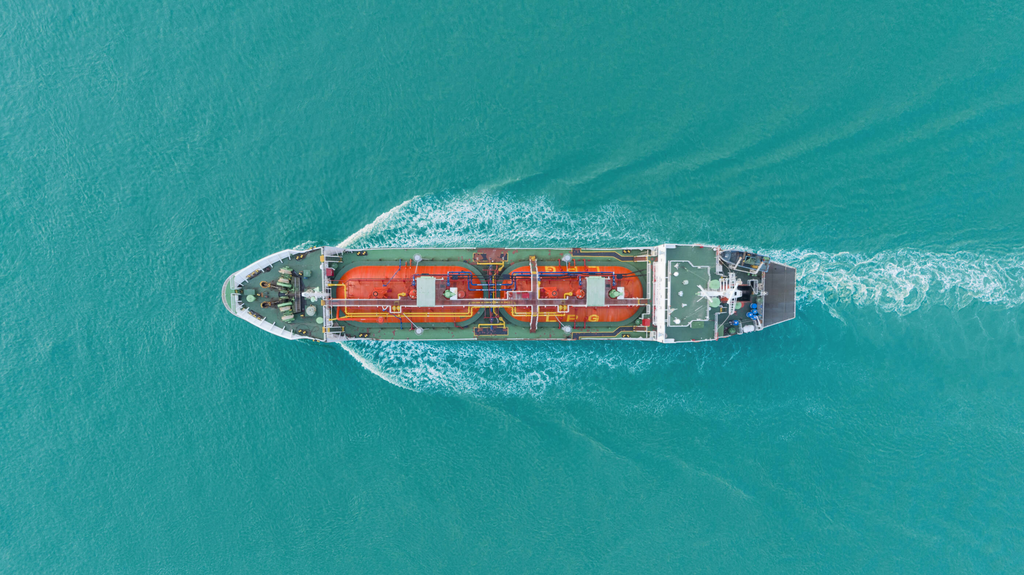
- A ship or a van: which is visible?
ship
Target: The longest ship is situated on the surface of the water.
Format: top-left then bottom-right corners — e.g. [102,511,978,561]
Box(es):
[222,244,797,344]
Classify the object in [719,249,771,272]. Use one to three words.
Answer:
boat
